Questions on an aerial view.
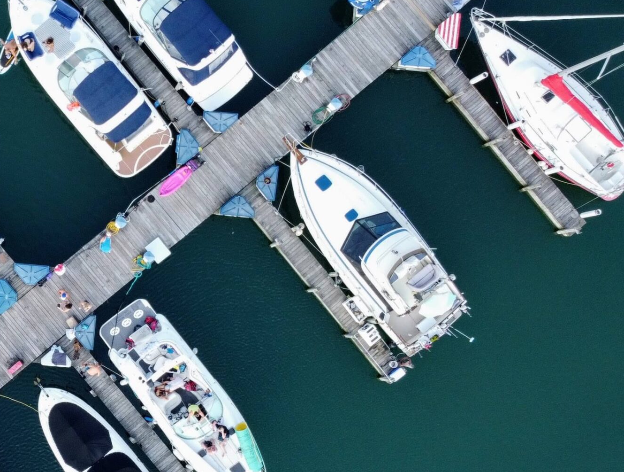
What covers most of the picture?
water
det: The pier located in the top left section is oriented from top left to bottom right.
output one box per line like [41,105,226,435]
[68,0,217,149]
